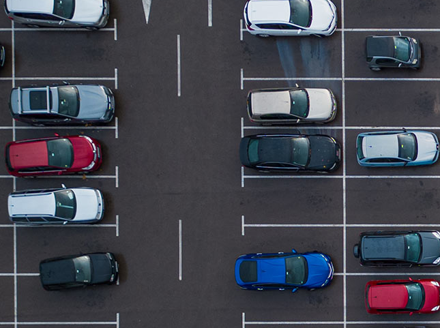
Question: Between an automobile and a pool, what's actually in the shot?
automobile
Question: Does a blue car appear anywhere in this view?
Yes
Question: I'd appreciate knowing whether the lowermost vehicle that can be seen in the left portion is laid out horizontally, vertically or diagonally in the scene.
horizontally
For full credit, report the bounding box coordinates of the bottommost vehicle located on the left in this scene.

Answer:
[37,250,121,292]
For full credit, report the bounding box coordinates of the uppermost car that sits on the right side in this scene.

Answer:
[241,0,338,39]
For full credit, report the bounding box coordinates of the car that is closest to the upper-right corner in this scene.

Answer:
[364,30,421,72]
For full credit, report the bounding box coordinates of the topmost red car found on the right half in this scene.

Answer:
[365,275,440,318]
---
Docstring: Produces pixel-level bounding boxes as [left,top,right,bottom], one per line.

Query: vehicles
[2,131,104,179]
[355,126,440,171]
[241,0,338,39]
[365,275,440,318]
[364,30,421,72]
[232,248,336,294]
[238,129,342,175]
[7,81,118,127]
[352,227,440,272]
[2,0,112,28]
[246,82,338,127]
[37,250,121,292]
[6,183,108,227]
